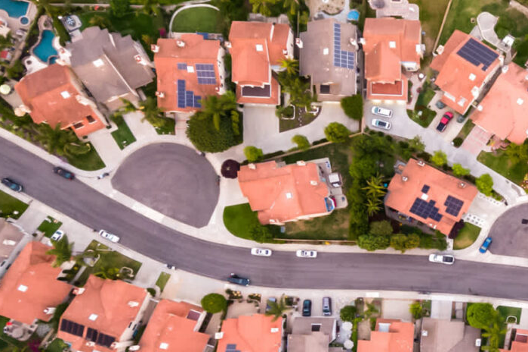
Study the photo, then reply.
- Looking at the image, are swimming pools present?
Yes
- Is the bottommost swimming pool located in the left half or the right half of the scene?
left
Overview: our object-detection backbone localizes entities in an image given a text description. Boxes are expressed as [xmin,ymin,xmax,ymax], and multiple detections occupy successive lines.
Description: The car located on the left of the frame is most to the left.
[2,177,23,191]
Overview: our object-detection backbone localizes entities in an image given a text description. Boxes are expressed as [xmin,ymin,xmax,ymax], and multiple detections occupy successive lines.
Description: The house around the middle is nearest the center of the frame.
[237,157,332,225]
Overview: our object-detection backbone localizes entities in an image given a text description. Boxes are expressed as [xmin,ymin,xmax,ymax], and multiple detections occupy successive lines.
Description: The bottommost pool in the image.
[31,28,60,66]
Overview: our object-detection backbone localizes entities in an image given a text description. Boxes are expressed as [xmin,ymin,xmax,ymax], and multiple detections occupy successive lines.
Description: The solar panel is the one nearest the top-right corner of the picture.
[458,38,498,71]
